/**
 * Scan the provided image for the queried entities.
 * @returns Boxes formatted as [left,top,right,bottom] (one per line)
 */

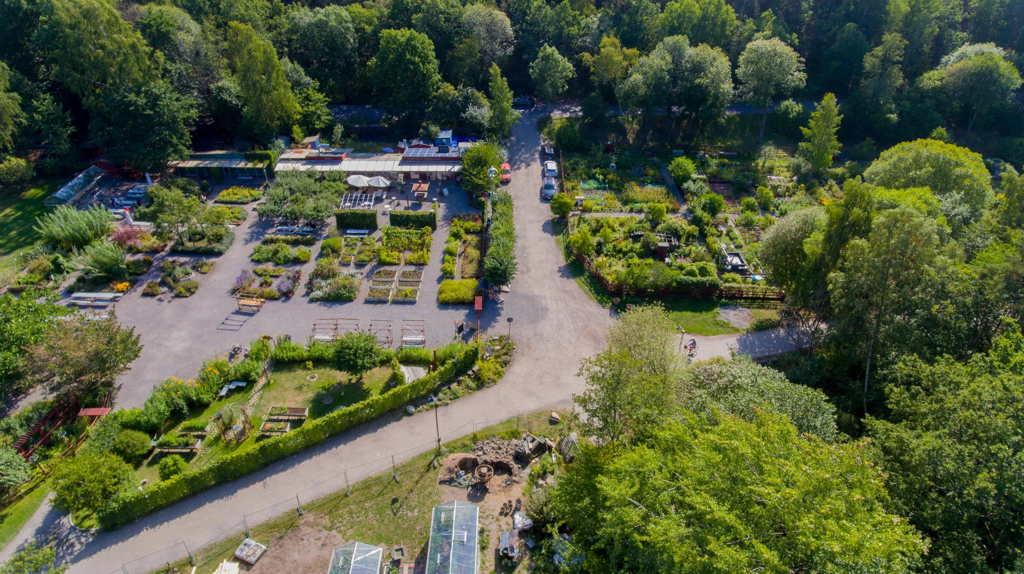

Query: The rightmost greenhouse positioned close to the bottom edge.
[422,500,482,574]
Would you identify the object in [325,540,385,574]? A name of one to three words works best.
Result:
greenhouse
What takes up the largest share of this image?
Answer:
trees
